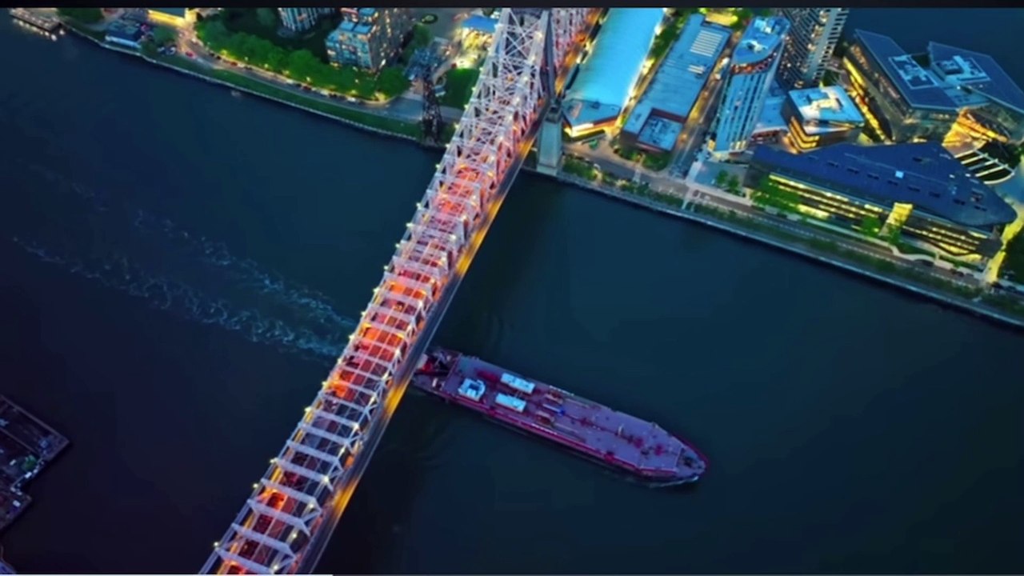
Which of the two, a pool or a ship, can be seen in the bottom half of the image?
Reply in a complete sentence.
There is a ship in the bottom half of the image.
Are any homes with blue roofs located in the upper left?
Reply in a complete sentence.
Yes, I can see a home with a blue roof in the upper left.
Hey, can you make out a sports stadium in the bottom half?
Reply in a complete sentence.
No, no sports stadium is visible in the bottom half.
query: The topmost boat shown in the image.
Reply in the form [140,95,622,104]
[416,346,452,380]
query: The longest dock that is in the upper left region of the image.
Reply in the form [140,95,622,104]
[9,7,63,38]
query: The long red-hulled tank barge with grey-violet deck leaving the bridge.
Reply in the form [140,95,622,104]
[413,346,706,480]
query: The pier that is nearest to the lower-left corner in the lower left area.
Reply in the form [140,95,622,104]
[0,393,71,533]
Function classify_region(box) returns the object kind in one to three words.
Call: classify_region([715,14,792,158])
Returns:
building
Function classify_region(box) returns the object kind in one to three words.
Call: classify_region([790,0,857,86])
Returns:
building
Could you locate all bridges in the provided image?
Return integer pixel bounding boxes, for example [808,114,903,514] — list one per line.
[197,0,608,576]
